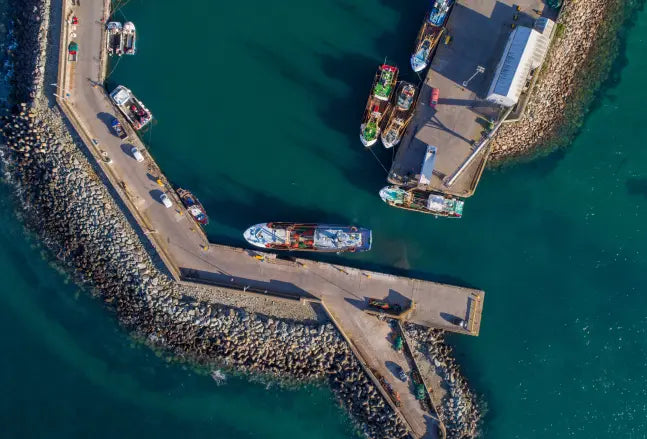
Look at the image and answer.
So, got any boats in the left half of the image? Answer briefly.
Yes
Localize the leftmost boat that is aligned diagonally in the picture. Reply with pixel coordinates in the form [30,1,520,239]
[112,85,153,130]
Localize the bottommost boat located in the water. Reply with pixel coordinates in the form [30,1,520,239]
[243,221,373,255]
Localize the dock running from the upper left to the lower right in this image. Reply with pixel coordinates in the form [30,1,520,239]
[46,0,485,439]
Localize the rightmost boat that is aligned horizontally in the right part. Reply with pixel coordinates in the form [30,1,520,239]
[378,189,465,219]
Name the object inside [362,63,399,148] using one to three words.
boat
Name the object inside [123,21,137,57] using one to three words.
boat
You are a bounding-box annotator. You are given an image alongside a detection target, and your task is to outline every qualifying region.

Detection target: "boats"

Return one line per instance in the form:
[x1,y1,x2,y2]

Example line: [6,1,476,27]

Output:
[123,21,137,57]
[362,63,399,148]
[243,221,373,255]
[109,21,123,57]
[383,79,415,150]
[175,186,209,225]
[112,85,153,130]
[411,0,456,75]
[378,189,465,219]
